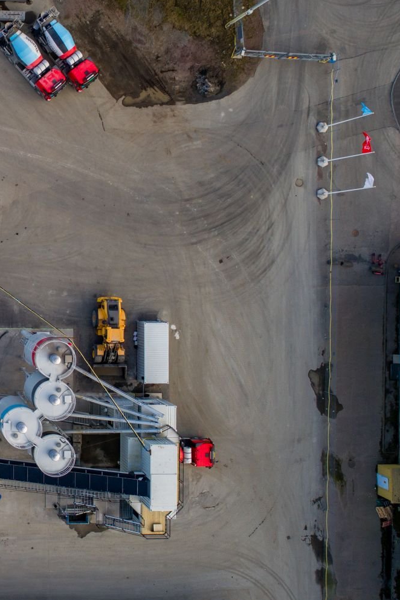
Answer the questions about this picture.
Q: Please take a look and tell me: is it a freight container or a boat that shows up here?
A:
freight container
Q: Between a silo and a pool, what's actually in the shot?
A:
silo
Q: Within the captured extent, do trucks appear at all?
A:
Yes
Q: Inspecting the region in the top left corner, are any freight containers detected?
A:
No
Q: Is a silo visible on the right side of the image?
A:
No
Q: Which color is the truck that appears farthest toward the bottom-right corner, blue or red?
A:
red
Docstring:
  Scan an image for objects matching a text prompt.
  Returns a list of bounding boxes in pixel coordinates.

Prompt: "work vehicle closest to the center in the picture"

[87,296,129,378]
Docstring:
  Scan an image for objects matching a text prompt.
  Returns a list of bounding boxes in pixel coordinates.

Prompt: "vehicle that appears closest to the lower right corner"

[184,436,218,467]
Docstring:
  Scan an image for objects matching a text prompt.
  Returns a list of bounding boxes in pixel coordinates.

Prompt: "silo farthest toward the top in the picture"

[16,328,78,380]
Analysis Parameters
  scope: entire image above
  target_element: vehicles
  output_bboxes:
[0,20,73,107]
[87,296,129,378]
[184,436,218,467]
[29,8,107,98]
